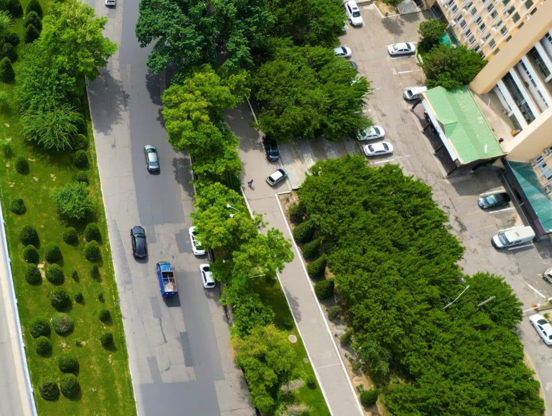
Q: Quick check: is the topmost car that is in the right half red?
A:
No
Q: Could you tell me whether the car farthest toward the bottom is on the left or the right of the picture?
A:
right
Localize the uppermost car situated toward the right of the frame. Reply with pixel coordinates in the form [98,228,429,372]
[343,1,363,26]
